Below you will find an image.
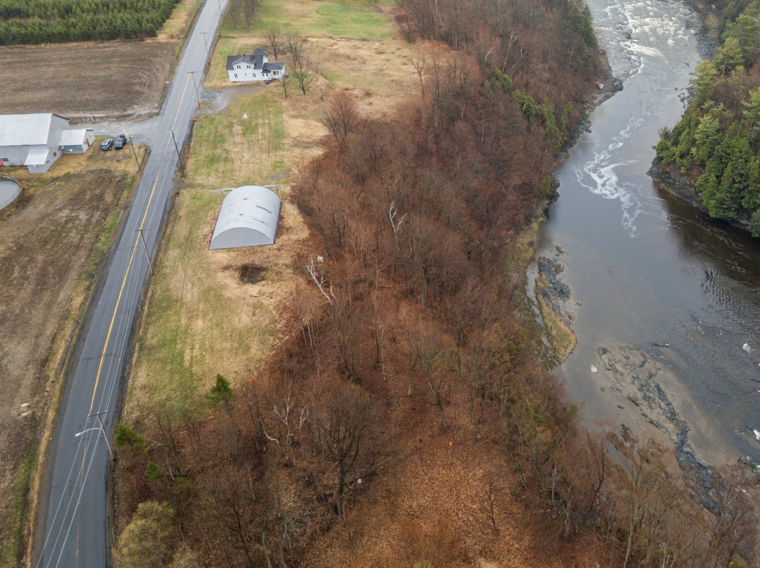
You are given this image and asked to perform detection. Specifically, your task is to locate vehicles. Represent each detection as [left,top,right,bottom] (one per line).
[109,134,132,148]
[96,140,114,151]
